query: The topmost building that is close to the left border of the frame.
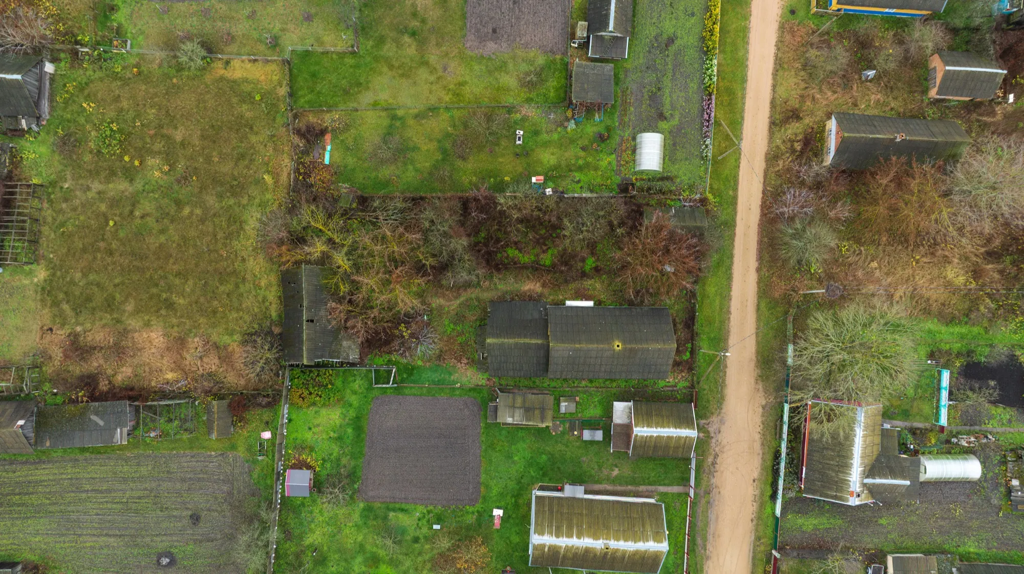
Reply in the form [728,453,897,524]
[0,56,56,129]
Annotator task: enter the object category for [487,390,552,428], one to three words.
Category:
shed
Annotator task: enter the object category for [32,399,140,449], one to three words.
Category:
barn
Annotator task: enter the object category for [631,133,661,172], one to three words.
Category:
greenhouse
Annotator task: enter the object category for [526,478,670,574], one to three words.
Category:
house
